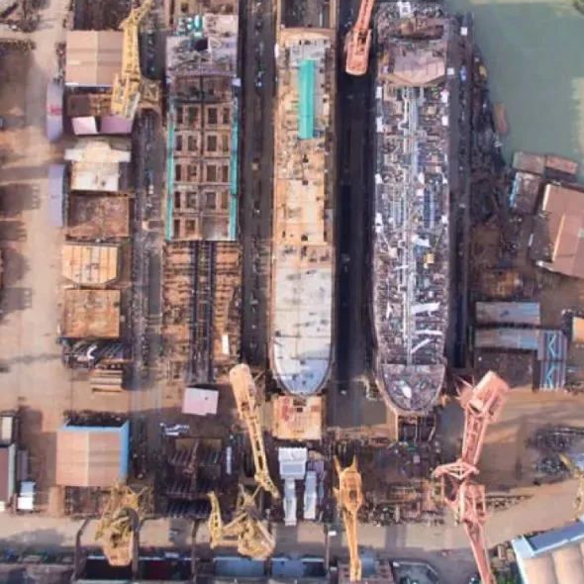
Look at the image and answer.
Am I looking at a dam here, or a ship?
ship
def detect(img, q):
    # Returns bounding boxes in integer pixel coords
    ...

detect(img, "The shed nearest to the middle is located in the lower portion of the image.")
[183,386,217,416]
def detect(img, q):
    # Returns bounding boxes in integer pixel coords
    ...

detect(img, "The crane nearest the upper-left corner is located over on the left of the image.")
[112,1,157,109]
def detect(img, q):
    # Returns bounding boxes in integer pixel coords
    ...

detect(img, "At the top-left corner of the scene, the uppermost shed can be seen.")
[66,28,129,89]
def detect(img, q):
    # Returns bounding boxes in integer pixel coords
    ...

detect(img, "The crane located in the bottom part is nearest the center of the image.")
[226,367,277,497]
